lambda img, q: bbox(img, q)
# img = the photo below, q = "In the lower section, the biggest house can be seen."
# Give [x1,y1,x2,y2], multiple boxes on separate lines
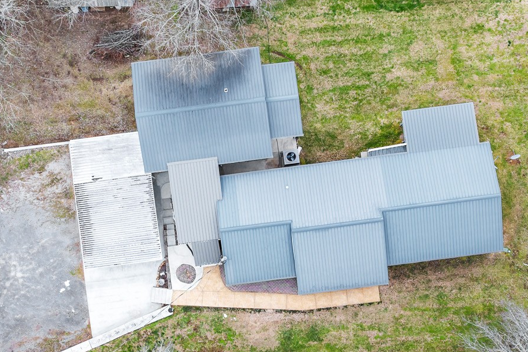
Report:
[218,142,513,295]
